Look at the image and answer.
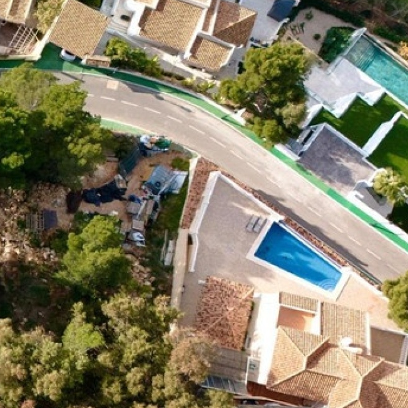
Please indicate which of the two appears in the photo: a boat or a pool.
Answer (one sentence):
There is a pool in the scene.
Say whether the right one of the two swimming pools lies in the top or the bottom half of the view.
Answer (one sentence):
The right one of the two swimming pools is in the top half of the image.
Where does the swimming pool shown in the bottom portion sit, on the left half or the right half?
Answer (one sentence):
The swimming pool shown in the bottom portion is on the right side of the image.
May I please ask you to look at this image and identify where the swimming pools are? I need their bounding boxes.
[344,36,408,116]
[247,217,348,299]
